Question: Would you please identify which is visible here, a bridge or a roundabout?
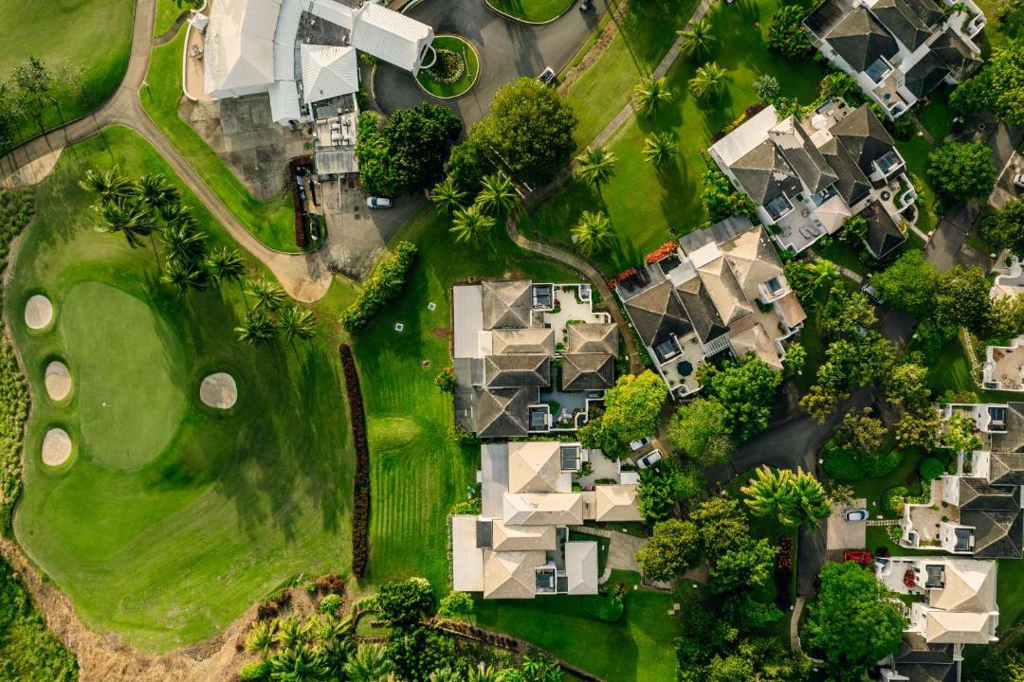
roundabout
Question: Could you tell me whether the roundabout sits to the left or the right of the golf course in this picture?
to the right of it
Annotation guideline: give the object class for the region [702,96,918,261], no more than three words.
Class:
house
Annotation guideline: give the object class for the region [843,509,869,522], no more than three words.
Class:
vehicle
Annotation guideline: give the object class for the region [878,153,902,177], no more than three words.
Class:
solar panel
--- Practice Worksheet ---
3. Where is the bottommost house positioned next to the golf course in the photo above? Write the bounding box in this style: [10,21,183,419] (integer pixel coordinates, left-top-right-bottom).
[452,440,645,599]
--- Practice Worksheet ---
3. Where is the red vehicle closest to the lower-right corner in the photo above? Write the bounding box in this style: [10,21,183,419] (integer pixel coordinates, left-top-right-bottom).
[843,550,869,563]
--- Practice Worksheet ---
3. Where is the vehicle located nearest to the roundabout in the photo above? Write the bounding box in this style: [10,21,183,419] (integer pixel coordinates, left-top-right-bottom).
[545,66,558,79]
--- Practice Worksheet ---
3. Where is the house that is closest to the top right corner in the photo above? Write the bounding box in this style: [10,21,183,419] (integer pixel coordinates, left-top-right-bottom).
[806,0,988,125]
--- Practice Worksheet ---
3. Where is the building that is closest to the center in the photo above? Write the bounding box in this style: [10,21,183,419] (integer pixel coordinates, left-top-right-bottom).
[453,280,619,438]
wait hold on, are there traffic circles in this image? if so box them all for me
[395,14,499,116]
